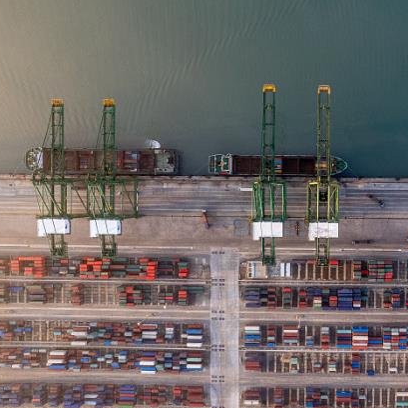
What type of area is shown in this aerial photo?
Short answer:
port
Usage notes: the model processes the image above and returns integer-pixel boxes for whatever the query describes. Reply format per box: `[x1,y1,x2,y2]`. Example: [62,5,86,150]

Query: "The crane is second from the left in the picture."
[84,87,149,258]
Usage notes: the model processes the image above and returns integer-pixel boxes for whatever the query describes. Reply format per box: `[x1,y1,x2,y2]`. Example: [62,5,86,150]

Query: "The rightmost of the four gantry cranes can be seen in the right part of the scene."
[303,85,342,266]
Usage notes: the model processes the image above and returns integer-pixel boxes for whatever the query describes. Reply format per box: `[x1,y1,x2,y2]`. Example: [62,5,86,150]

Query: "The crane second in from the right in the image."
[251,84,293,266]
